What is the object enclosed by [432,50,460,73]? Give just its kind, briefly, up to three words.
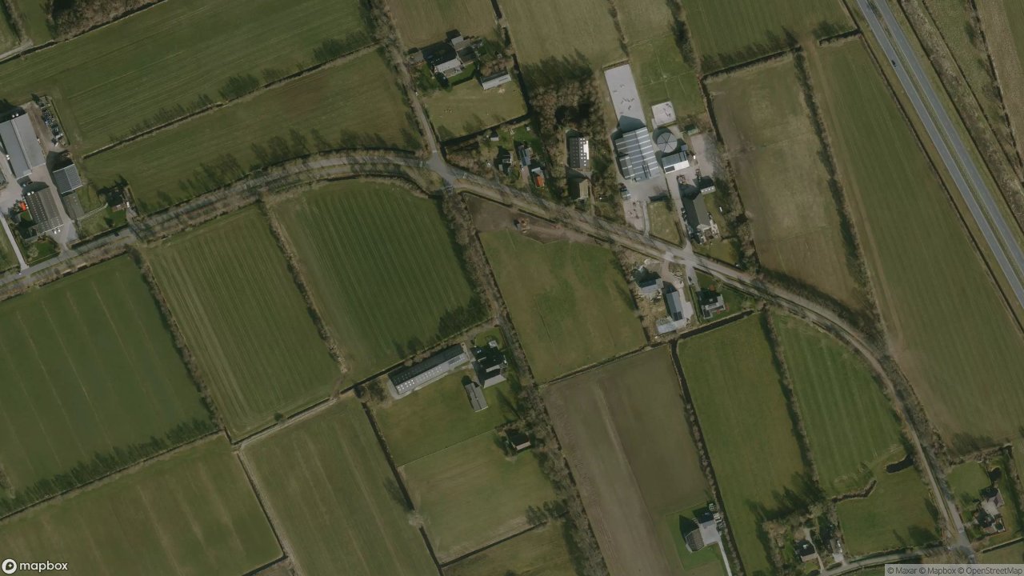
house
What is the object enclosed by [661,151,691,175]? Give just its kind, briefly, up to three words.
building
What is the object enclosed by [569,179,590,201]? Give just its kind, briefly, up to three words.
barn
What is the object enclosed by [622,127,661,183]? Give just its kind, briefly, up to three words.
building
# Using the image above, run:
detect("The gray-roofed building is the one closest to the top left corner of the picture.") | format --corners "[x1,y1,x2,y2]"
[0,113,46,175]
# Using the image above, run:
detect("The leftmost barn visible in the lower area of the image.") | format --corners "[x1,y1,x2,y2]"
[392,346,468,393]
